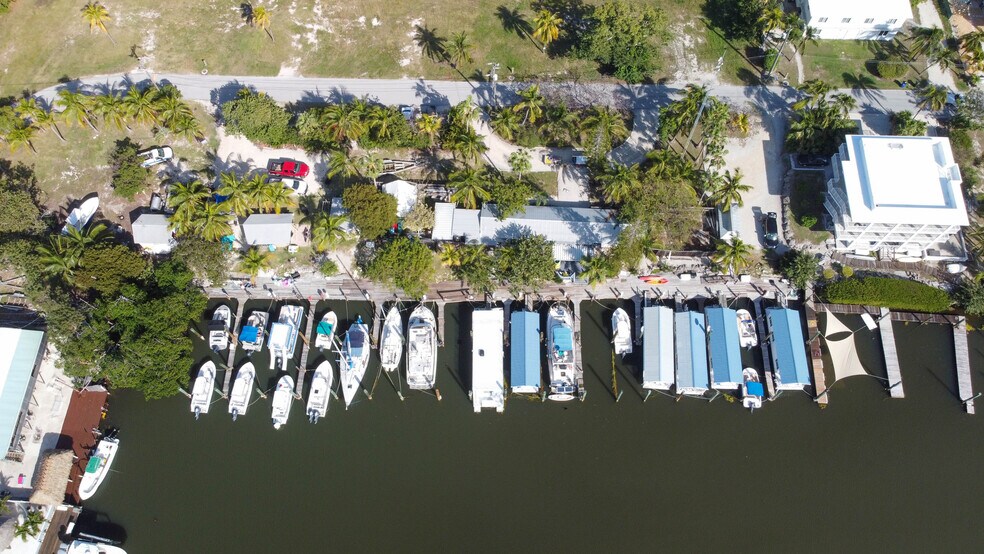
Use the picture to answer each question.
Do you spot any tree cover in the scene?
Yes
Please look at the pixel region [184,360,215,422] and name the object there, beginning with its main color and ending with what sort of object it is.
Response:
white boat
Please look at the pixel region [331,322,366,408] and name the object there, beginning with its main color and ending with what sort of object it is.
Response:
white boat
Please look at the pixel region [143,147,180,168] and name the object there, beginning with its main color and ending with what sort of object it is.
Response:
white truck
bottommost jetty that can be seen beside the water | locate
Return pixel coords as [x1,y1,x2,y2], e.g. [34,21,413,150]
[41,507,83,554]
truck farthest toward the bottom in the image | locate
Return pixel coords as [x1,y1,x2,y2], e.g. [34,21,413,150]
[758,211,782,252]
